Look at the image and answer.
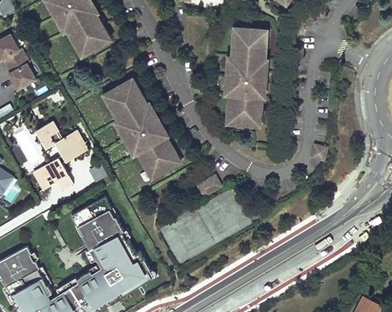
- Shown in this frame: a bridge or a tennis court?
tennis court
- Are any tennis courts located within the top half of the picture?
No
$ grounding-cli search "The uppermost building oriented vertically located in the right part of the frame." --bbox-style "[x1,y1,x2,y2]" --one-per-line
[223,28,270,130]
